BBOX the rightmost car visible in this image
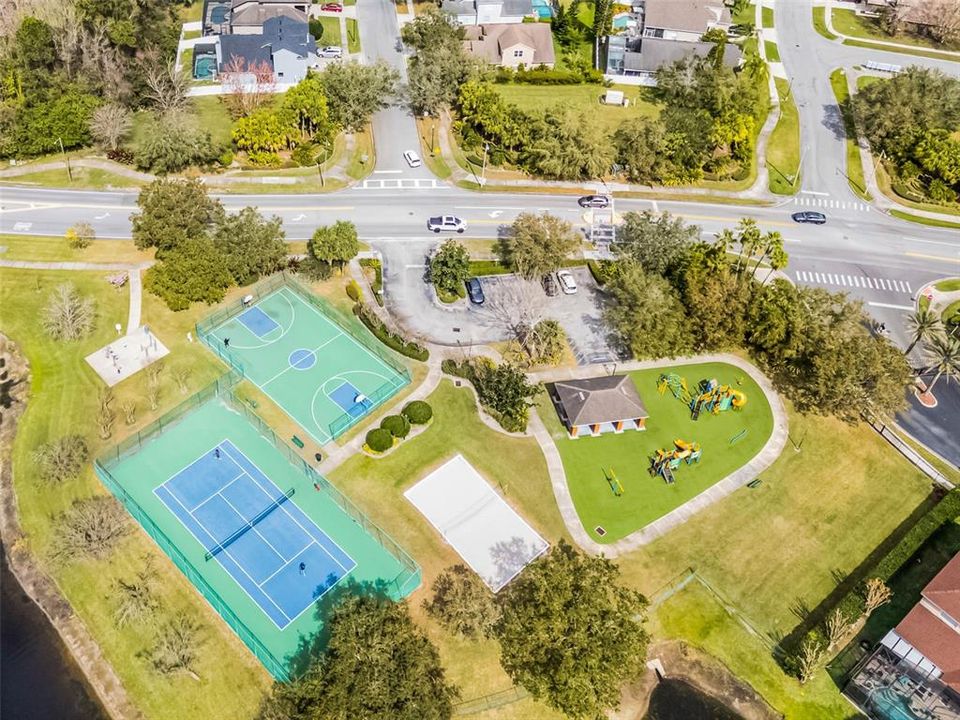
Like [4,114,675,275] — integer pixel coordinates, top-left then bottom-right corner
[793,210,829,226]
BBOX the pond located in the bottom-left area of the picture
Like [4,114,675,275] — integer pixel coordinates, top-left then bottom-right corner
[0,536,112,720]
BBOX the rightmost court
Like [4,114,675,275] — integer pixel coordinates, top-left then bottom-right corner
[403,454,550,592]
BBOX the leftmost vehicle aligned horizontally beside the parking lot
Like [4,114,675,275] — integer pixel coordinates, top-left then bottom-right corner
[426,217,467,233]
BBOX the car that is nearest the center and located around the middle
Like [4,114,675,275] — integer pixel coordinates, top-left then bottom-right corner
[467,277,487,303]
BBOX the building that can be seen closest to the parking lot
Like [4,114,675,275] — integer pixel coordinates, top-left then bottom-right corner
[553,374,650,440]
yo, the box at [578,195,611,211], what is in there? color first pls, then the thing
gray car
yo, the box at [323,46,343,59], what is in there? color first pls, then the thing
white vehicle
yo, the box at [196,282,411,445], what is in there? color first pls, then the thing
green basketball court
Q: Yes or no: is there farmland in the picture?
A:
No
